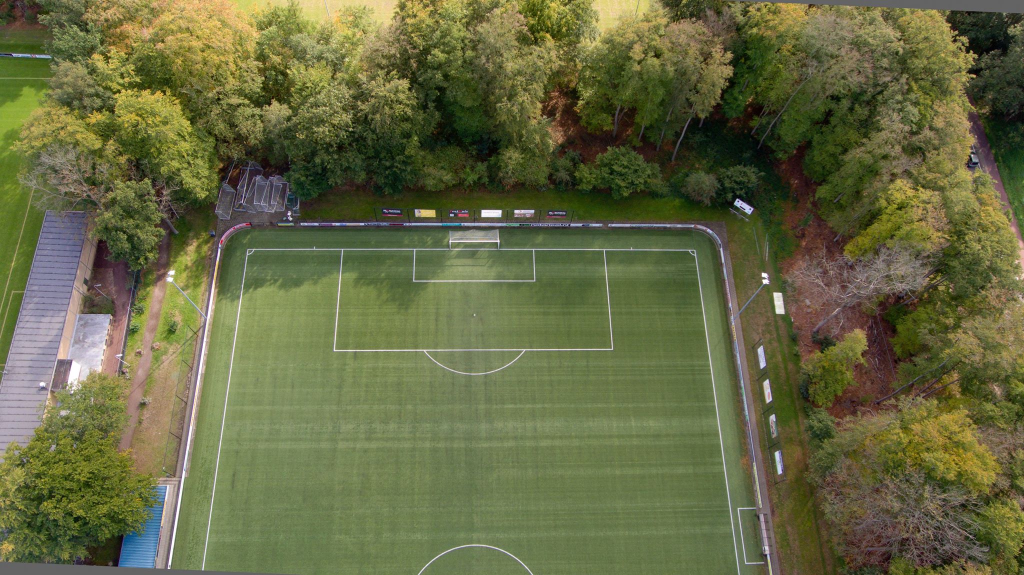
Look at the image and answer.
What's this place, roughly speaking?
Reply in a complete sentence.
It's a sports ground.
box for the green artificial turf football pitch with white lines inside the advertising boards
[173,228,766,575]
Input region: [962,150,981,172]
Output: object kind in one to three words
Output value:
car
